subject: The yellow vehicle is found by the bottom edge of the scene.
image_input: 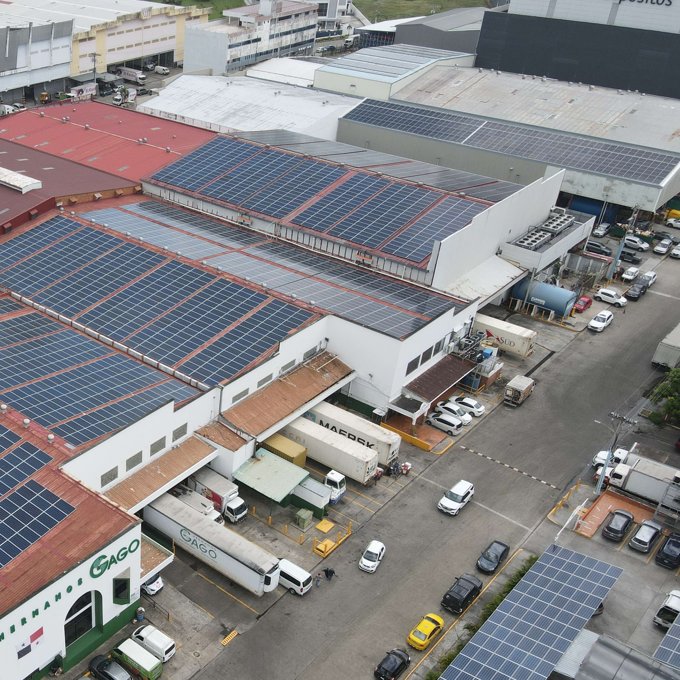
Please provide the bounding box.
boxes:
[405,613,443,655]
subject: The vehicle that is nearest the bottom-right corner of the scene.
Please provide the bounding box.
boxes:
[655,588,680,632]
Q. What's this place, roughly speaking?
industrial area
